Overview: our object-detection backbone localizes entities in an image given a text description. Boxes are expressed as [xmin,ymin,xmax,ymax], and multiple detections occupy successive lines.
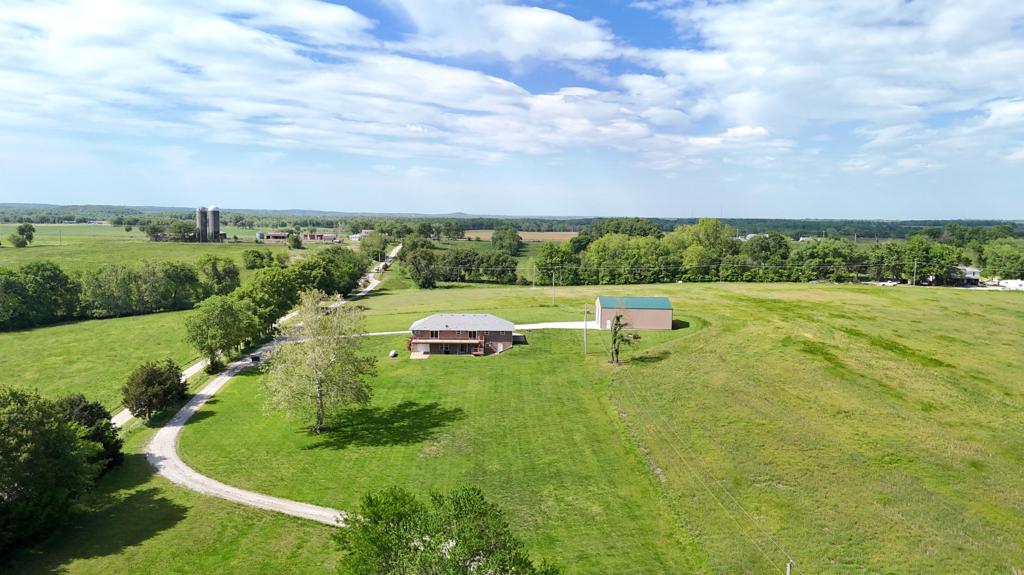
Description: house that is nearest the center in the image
[408,312,516,356]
